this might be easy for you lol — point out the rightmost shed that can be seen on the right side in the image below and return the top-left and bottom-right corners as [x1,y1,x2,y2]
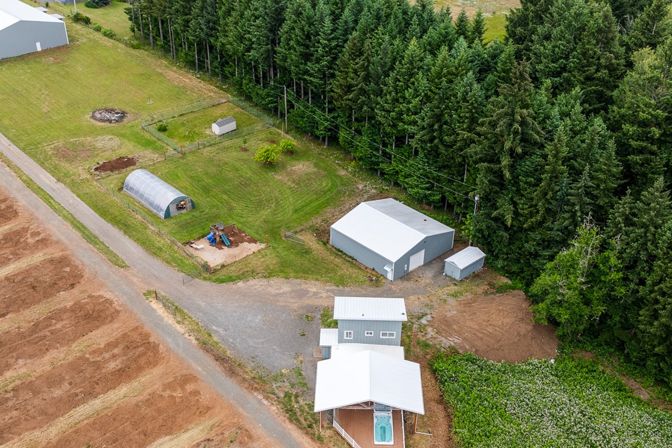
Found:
[441,246,488,283]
